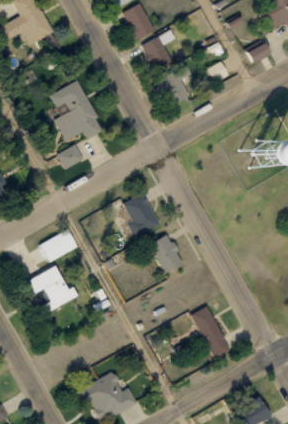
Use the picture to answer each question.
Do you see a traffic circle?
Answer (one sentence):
No, I can see no traffic circle in this picture.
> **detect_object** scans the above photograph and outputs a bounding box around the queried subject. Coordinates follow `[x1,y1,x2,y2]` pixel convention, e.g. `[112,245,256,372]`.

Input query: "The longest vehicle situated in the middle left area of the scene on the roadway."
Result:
[68,176,88,190]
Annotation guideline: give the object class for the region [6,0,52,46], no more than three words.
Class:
house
